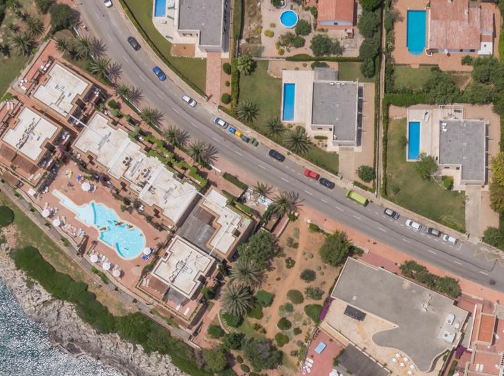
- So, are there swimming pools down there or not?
Yes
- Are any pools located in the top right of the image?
Yes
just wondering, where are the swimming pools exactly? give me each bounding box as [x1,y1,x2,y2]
[49,187,148,261]
[405,8,428,57]
[279,9,299,30]
[152,0,167,18]
[405,120,421,161]
[281,82,297,122]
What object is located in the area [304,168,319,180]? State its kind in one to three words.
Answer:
vehicle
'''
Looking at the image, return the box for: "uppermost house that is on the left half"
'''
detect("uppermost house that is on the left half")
[178,0,225,50]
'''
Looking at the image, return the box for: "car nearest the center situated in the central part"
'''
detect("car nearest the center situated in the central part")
[267,149,286,162]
